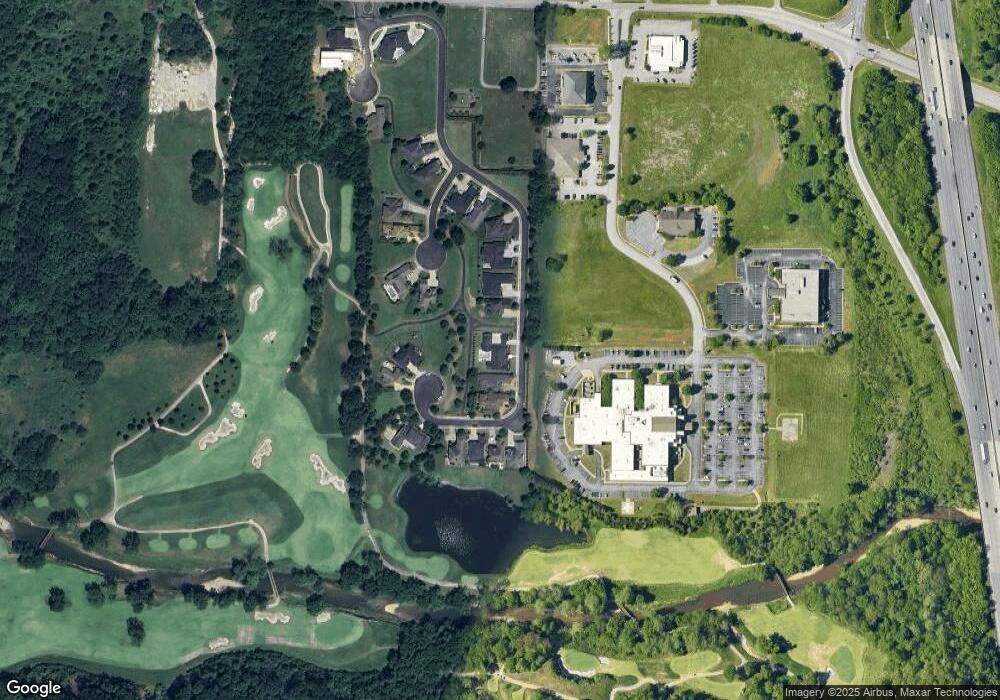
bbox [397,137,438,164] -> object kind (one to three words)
house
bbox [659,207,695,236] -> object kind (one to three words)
building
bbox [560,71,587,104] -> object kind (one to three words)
building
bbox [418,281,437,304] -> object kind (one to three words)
house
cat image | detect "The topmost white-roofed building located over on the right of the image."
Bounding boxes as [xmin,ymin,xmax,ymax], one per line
[650,35,684,70]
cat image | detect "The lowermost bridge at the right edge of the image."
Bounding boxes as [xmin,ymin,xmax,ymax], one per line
[978,496,1000,542]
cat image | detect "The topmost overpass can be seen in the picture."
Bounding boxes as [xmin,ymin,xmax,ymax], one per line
[916,35,969,118]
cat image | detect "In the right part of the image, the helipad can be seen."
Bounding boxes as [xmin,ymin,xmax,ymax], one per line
[768,413,804,440]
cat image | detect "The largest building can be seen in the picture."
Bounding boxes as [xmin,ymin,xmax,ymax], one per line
[570,379,693,481]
